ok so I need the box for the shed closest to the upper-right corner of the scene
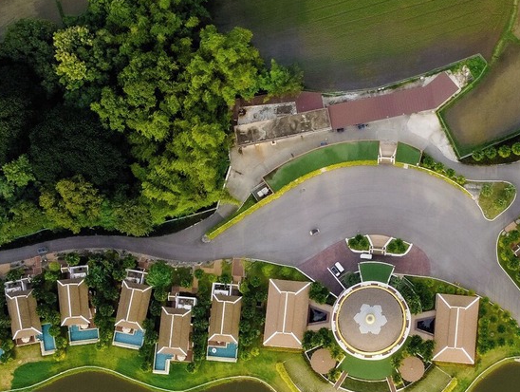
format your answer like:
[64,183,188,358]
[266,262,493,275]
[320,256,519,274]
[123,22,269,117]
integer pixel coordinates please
[328,71,459,131]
